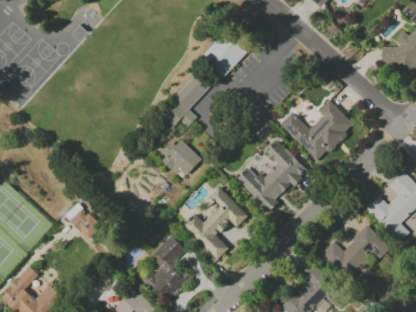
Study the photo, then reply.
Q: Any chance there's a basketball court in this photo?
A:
Yes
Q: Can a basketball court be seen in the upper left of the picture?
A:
Yes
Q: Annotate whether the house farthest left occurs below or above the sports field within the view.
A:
below it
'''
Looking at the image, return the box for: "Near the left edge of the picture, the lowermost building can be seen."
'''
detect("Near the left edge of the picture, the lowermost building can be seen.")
[0,265,57,312]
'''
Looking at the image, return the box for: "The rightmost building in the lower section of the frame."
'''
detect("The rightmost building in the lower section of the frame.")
[368,171,416,238]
